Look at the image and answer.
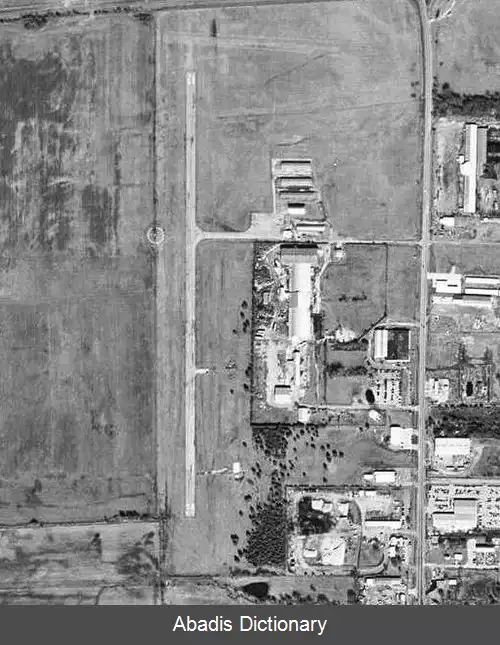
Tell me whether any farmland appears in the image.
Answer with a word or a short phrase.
Yes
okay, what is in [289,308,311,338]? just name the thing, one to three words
building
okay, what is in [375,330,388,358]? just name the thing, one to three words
building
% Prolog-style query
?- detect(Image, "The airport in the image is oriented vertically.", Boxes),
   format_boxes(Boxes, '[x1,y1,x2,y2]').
[159,8,312,574]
